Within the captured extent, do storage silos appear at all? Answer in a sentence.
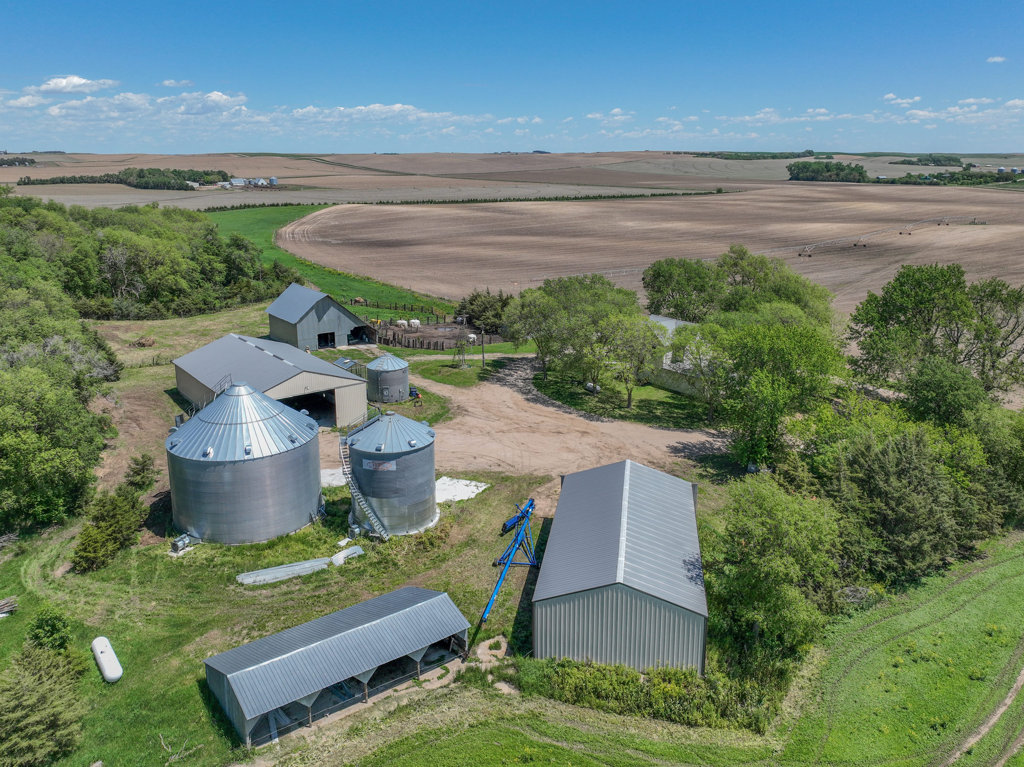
Yes, the picture does show a storage silo.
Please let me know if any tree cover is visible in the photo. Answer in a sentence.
Yes, there is tree cover in the image.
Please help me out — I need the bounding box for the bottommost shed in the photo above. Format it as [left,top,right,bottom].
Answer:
[205,585,472,745]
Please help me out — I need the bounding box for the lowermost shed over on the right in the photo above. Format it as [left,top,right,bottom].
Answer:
[530,458,707,674]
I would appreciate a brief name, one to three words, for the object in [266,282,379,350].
barn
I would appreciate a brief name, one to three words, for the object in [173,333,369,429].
shed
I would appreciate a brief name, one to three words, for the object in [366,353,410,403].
silo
